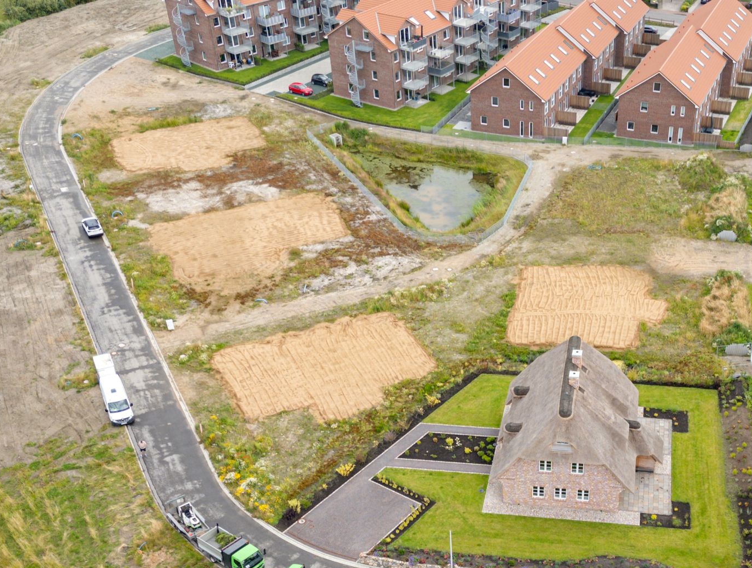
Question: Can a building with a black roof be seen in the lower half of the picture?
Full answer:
No, looking in the lower half of the picture, there is no building with a black roof.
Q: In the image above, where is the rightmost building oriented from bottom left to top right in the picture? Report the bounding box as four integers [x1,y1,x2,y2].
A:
[615,0,752,146]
